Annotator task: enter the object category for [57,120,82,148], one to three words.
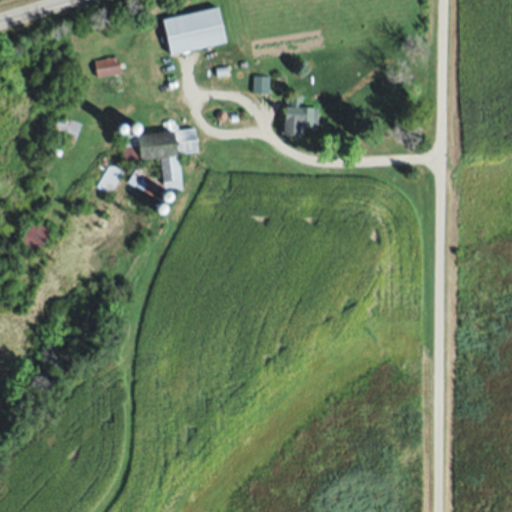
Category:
house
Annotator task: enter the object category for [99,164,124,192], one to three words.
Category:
shed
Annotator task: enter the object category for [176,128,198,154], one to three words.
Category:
barn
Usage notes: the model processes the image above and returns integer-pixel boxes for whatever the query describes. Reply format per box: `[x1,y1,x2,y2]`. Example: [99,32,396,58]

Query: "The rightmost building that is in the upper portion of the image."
[285,96,320,138]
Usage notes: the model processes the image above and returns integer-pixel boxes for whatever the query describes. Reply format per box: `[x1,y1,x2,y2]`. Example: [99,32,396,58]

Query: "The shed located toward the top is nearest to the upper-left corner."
[95,57,122,78]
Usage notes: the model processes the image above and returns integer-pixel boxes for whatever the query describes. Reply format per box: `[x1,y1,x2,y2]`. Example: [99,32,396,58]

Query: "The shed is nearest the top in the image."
[164,8,228,54]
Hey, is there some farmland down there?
Yes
